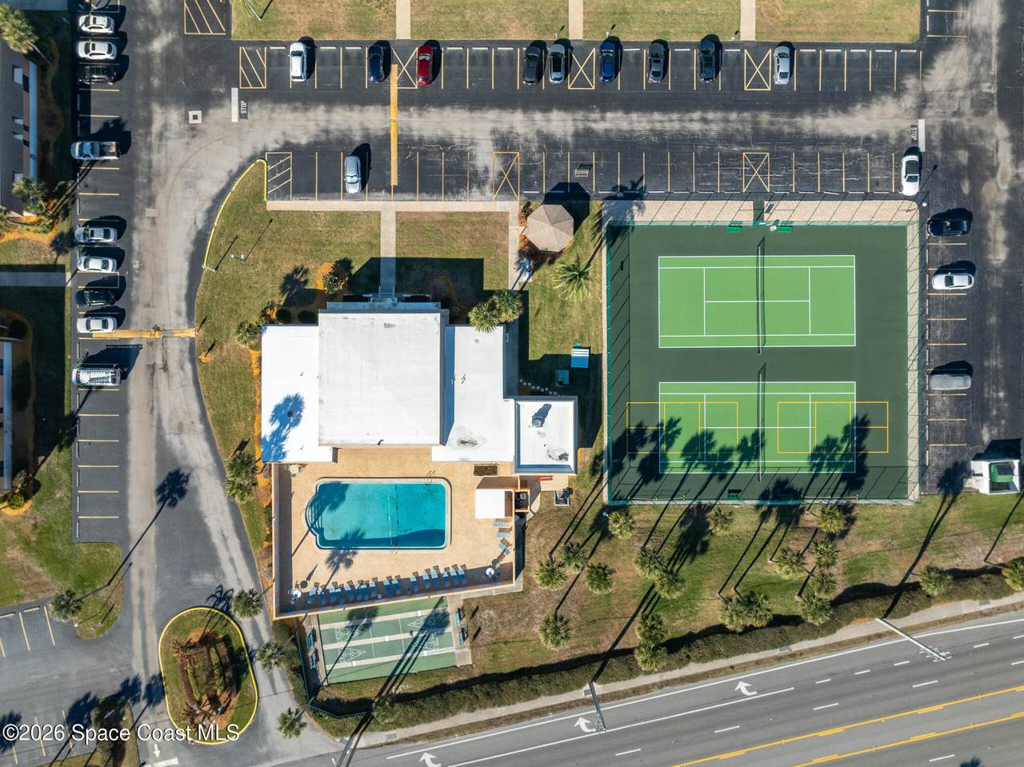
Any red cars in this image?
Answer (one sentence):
Yes, the image includes a red car.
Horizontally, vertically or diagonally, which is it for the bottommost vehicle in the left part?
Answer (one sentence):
The bottommost vehicle in the left part is oriented horizontally.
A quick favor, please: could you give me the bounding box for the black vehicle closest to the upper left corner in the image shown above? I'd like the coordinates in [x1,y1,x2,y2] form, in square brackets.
[78,65,118,84]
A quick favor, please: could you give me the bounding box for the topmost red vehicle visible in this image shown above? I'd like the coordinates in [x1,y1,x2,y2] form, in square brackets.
[416,46,434,86]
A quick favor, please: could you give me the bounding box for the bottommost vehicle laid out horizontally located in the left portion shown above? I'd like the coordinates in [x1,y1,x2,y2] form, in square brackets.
[75,364,124,386]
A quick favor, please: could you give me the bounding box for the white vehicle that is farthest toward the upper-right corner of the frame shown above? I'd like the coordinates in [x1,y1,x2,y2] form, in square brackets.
[899,152,921,197]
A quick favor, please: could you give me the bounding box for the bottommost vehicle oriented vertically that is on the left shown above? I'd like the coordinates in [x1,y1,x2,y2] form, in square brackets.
[343,154,362,194]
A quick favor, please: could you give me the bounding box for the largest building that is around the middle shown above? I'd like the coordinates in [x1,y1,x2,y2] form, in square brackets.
[262,284,577,474]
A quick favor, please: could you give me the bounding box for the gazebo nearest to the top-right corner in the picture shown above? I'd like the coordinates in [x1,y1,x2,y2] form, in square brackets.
[527,205,574,252]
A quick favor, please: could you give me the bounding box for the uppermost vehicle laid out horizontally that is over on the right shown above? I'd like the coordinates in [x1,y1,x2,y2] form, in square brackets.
[927,217,970,236]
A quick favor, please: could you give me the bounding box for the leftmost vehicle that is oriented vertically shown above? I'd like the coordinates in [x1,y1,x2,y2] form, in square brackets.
[289,42,308,83]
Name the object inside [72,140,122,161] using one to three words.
vehicle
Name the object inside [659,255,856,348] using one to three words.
tennis court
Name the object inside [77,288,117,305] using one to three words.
car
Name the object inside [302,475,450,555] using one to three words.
swimming pool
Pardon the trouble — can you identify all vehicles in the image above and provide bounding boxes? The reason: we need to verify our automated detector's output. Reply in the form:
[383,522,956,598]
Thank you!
[78,315,118,332]
[289,42,308,83]
[79,15,118,36]
[649,42,667,83]
[78,255,118,272]
[77,288,117,305]
[930,271,974,290]
[416,46,434,86]
[927,217,970,236]
[549,44,567,84]
[899,152,921,197]
[78,40,119,61]
[697,40,717,82]
[343,154,362,194]
[77,225,118,243]
[72,140,122,161]
[601,42,619,83]
[772,46,791,87]
[78,65,118,84]
[522,46,541,86]
[75,364,124,386]
[367,44,385,84]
